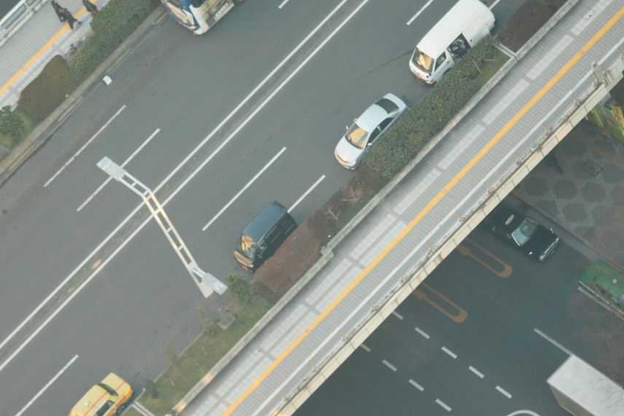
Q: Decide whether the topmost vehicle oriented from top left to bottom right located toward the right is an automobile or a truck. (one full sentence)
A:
It turns out the topmost vehicle oriented from top left to bottom right located toward the right is an automobile.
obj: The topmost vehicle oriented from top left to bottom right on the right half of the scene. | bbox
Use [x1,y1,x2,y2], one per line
[482,201,561,266]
